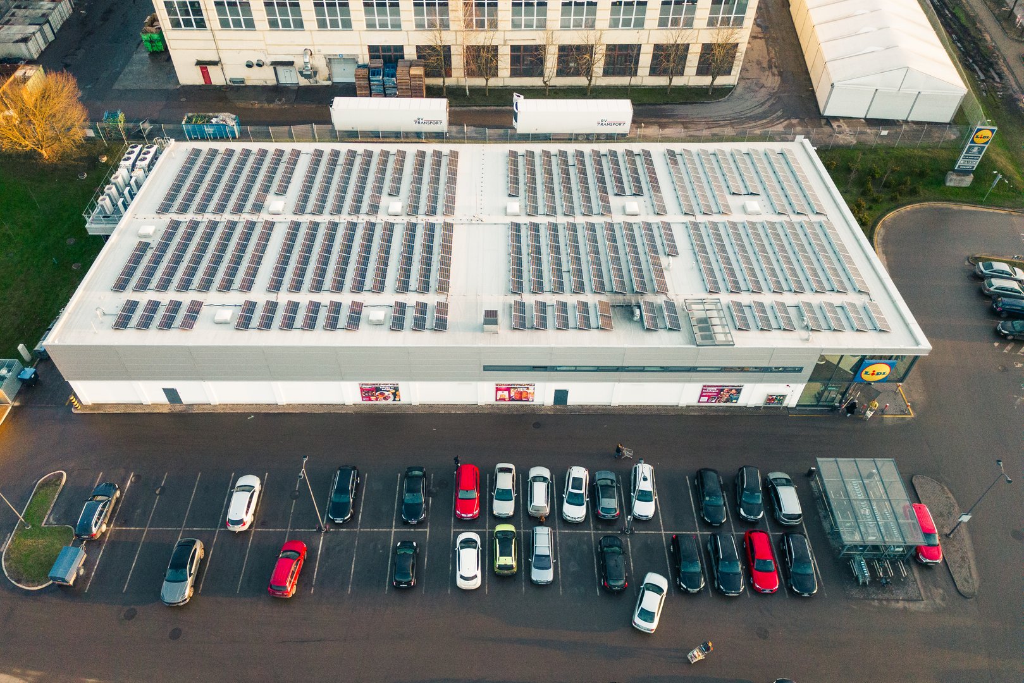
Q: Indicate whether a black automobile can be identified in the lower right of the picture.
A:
Yes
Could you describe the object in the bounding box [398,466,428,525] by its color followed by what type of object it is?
black car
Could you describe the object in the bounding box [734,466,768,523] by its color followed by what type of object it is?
black car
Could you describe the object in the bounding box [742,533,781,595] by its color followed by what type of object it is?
red car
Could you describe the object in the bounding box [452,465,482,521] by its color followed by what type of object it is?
red car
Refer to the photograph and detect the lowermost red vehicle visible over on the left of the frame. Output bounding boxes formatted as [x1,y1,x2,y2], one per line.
[268,541,309,598]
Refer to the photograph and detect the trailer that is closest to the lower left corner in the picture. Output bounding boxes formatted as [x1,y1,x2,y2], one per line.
[48,540,95,589]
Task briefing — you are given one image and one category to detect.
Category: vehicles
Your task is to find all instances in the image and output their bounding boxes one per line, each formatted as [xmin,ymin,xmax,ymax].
[779,534,821,598]
[391,541,420,589]
[490,526,520,575]
[452,465,482,521]
[329,97,449,140]
[734,466,768,523]
[72,484,119,539]
[452,533,484,590]
[630,465,659,522]
[766,472,803,526]
[525,468,554,517]
[159,540,204,607]
[973,261,1024,283]
[592,472,622,519]
[742,533,781,595]
[978,276,1024,299]
[989,294,1024,320]
[398,466,428,525]
[527,529,558,586]
[224,476,262,532]
[632,572,670,635]
[327,467,361,524]
[993,318,1024,341]
[708,534,747,597]
[489,463,519,518]
[899,505,943,567]
[513,100,633,140]
[672,537,708,594]
[268,541,309,598]
[561,467,592,525]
